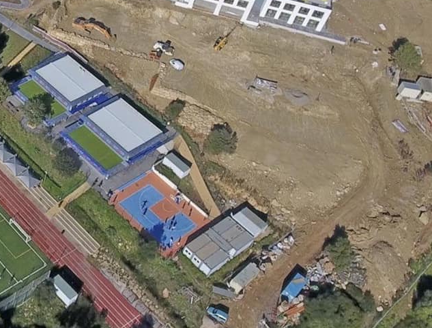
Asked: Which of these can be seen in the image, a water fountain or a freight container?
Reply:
freight container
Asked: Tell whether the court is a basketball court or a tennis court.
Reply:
basketball court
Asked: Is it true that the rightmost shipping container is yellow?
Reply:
No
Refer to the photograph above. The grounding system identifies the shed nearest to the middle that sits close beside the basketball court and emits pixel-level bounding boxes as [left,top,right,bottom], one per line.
[161,151,191,180]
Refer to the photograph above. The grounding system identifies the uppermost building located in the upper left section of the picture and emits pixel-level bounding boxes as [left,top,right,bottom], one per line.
[29,51,111,112]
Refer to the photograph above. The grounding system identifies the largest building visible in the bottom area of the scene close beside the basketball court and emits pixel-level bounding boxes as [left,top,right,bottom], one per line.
[180,214,253,280]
